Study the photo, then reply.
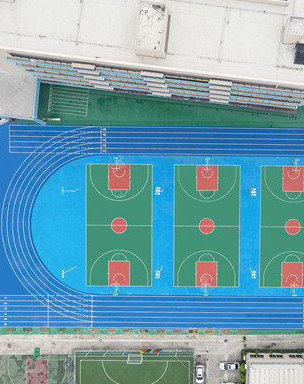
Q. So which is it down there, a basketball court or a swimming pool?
basketball court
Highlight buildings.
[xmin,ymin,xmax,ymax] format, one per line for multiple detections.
[0,0,304,117]
[247,352,304,384]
